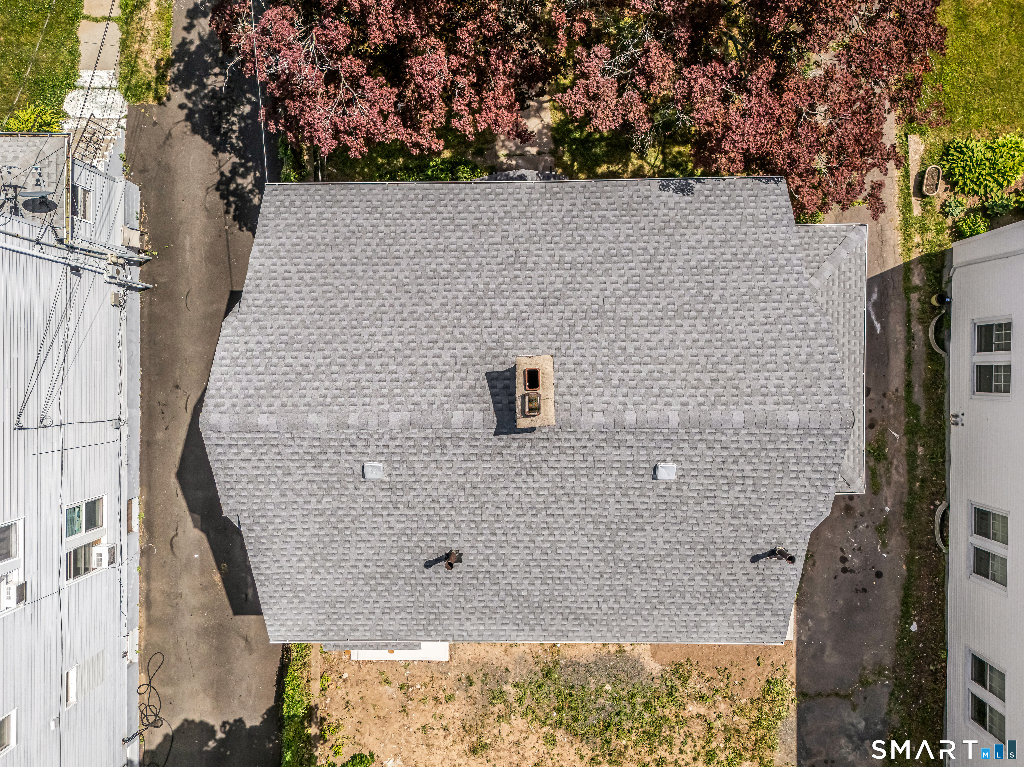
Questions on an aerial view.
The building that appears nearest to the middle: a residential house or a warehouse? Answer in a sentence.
The building that appears nearest to the middle appears to be a residential house.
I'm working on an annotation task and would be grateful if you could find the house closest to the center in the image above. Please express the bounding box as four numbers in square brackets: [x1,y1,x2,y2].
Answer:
[200,164,870,661]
